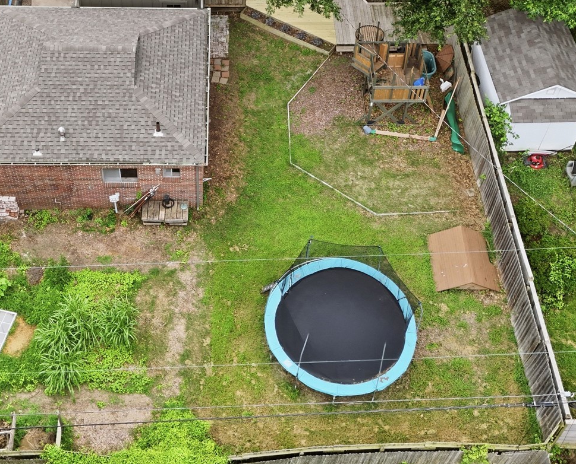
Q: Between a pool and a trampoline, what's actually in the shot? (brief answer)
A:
trampoline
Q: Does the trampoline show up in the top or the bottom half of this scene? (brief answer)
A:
bottom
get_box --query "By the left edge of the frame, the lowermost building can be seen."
[0,4,214,206]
